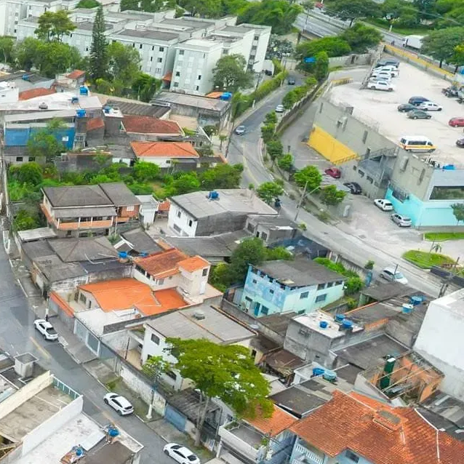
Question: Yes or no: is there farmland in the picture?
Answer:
No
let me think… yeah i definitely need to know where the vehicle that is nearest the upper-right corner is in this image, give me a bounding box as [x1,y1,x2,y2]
[406,32,424,44]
